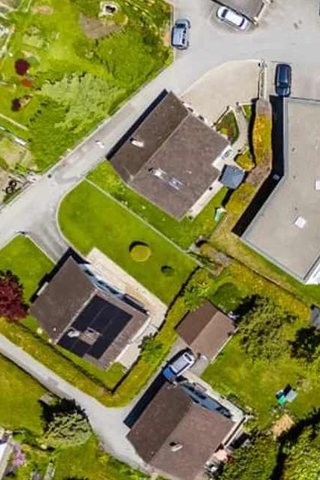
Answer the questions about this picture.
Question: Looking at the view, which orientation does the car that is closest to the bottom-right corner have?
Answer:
at an angle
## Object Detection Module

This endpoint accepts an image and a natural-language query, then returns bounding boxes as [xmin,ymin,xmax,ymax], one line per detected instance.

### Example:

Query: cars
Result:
[163,348,200,382]
[275,64,293,98]
[214,9,250,35]
[173,18,191,51]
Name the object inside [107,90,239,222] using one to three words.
house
